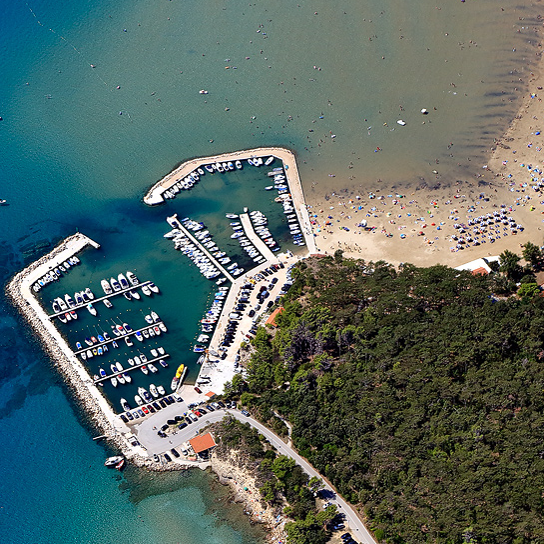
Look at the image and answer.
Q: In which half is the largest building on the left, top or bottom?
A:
bottom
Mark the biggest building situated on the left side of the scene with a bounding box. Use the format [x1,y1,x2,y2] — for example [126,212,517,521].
[189,433,216,458]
